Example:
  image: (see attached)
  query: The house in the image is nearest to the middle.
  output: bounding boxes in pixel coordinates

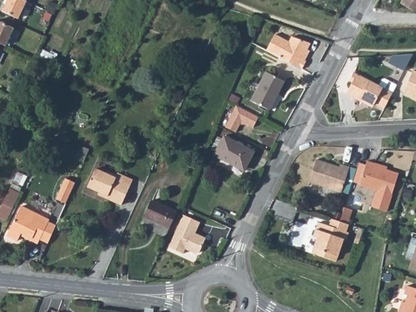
[214,134,256,172]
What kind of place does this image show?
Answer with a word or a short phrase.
residential area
